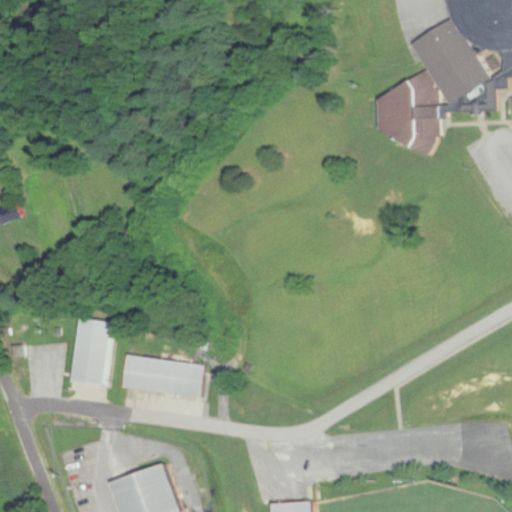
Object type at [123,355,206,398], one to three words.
shed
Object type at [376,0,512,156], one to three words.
church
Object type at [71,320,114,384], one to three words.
building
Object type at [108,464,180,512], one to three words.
building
